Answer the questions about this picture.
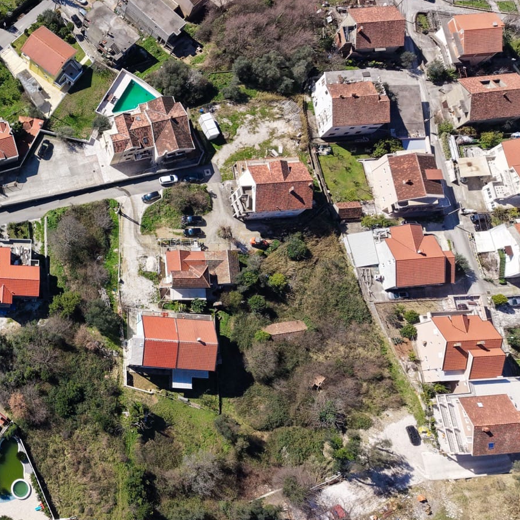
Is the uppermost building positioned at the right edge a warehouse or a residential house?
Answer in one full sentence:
Looking closely, the uppermost building positioned at the right edge is a residential house.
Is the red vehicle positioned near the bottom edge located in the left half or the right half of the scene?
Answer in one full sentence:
You can find the red vehicle positioned near the bottom edge on the right side of the picture.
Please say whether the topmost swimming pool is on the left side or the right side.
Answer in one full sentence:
The topmost swimming pool sits on the left side.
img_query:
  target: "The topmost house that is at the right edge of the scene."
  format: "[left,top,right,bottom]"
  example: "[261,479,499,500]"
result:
[435,12,505,65]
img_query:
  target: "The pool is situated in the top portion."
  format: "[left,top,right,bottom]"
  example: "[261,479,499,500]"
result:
[110,78,157,115]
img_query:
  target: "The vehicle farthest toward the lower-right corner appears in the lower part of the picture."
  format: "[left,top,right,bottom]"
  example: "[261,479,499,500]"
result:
[405,425,420,446]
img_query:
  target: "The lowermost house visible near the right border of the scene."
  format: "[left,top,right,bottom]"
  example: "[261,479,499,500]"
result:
[428,377,520,456]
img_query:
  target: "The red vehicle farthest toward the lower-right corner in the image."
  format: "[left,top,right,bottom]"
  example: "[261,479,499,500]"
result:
[328,498,349,520]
